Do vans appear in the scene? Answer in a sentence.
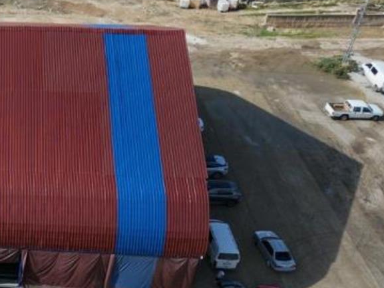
Yes, a van can be made out from above.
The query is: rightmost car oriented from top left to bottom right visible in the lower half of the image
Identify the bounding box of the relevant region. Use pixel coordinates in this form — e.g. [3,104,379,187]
[251,231,301,270]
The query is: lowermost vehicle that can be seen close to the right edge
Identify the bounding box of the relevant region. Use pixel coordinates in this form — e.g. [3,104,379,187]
[325,100,384,123]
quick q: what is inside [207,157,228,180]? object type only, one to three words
car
